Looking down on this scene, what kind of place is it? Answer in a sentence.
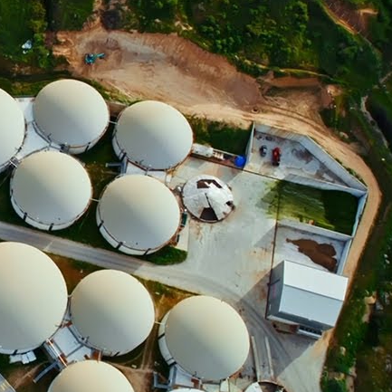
The area seen from above is an industrial area.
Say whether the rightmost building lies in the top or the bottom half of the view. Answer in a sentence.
The bottom half of the photo is where the rightmost building is.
